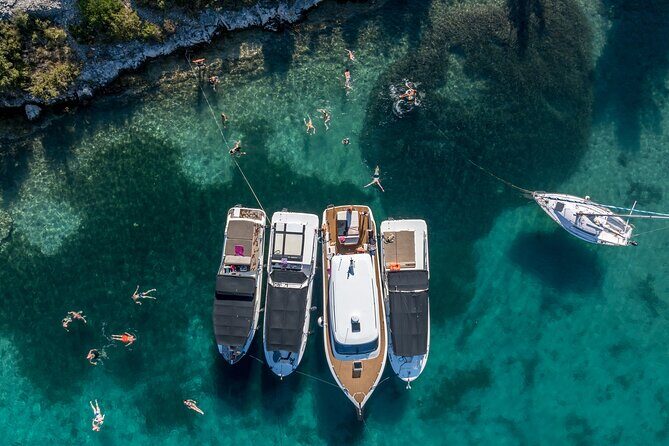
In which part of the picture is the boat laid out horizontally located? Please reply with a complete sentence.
The boat laid out horizontally is located in the right region of the scene.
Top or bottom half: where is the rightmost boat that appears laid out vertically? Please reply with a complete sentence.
The bottom half of the photo is where the rightmost boat that appears laid out vertically is.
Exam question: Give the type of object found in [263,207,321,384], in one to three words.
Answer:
boat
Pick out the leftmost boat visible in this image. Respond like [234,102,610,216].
[214,204,267,366]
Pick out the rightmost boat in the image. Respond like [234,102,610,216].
[535,195,669,247]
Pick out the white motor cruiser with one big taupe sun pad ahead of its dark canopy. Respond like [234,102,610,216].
[381,215,429,392]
